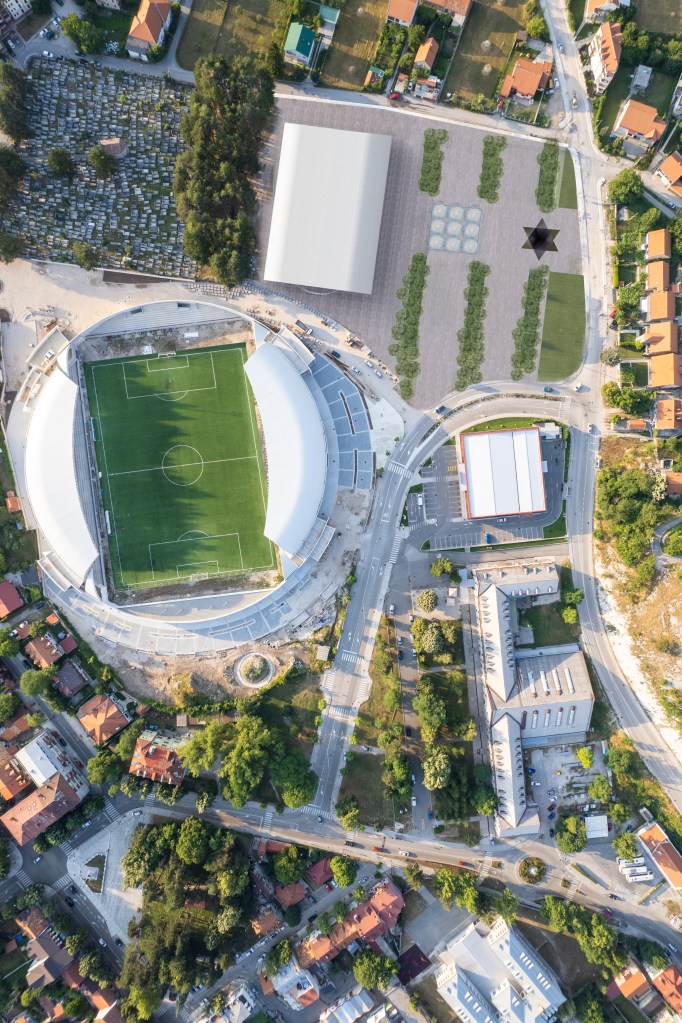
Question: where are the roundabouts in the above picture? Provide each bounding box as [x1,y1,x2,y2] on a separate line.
[514,852,551,889]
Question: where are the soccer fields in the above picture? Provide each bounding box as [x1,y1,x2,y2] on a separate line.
[83,343,277,590]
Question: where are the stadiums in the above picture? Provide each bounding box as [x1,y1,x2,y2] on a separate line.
[9,300,376,656]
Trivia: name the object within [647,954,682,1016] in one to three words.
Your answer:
house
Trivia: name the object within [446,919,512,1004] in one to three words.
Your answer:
building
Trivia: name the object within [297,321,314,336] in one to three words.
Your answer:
vehicle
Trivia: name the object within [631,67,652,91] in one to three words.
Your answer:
shed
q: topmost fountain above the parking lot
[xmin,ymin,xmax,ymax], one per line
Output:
[428,203,482,254]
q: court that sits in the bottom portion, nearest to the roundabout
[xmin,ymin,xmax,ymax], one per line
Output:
[406,887,471,956]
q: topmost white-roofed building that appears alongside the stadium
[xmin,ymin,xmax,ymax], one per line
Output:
[264,122,391,295]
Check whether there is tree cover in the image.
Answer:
Yes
